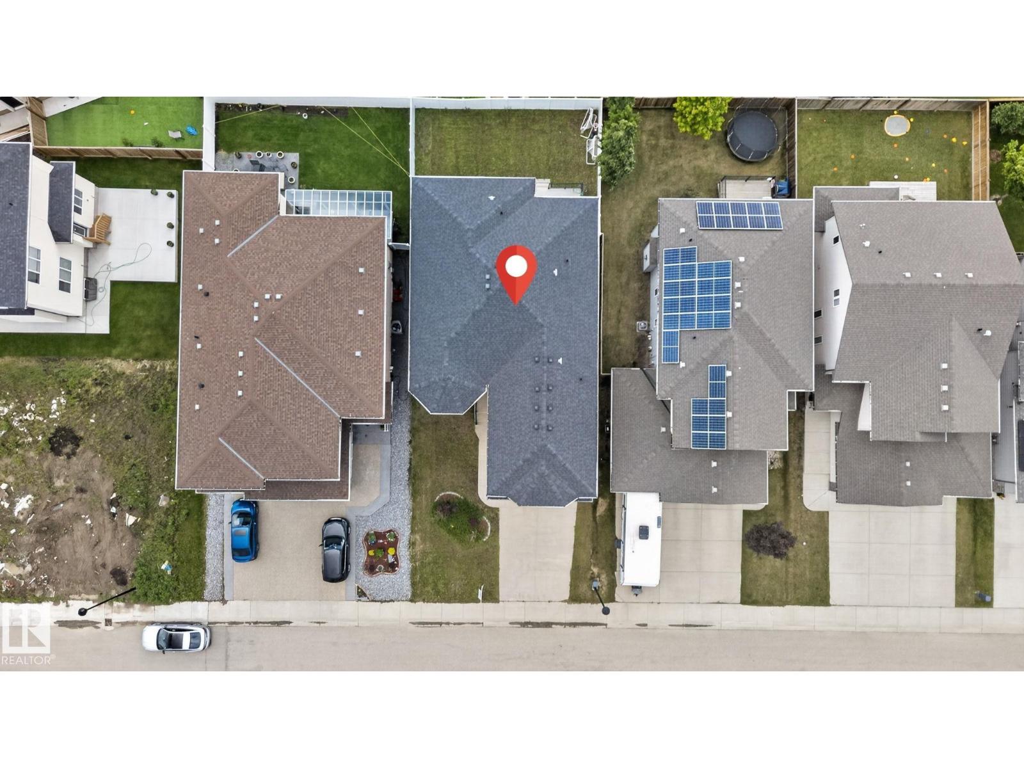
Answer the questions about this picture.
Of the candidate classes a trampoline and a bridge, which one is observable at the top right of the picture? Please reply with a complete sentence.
The feature located at the top right of the picture is a trampoline.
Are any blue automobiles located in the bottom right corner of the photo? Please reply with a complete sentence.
No, there is no blue automobile in the bottom right corner of the photo.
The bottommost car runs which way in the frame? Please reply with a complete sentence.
From this overhead view, the bottommost car appears to run horizontally.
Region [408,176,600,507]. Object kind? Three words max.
house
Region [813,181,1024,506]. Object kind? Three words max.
house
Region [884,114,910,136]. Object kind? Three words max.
trampoline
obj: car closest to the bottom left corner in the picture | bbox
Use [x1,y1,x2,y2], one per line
[142,620,211,654]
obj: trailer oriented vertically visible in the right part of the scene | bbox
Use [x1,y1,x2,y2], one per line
[611,493,661,595]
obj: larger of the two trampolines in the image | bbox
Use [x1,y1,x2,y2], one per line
[720,101,787,168]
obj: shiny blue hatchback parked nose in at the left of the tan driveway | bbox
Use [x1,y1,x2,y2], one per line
[226,500,259,562]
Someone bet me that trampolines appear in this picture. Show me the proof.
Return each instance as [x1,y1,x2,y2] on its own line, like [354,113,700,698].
[720,101,787,168]
[884,114,910,136]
